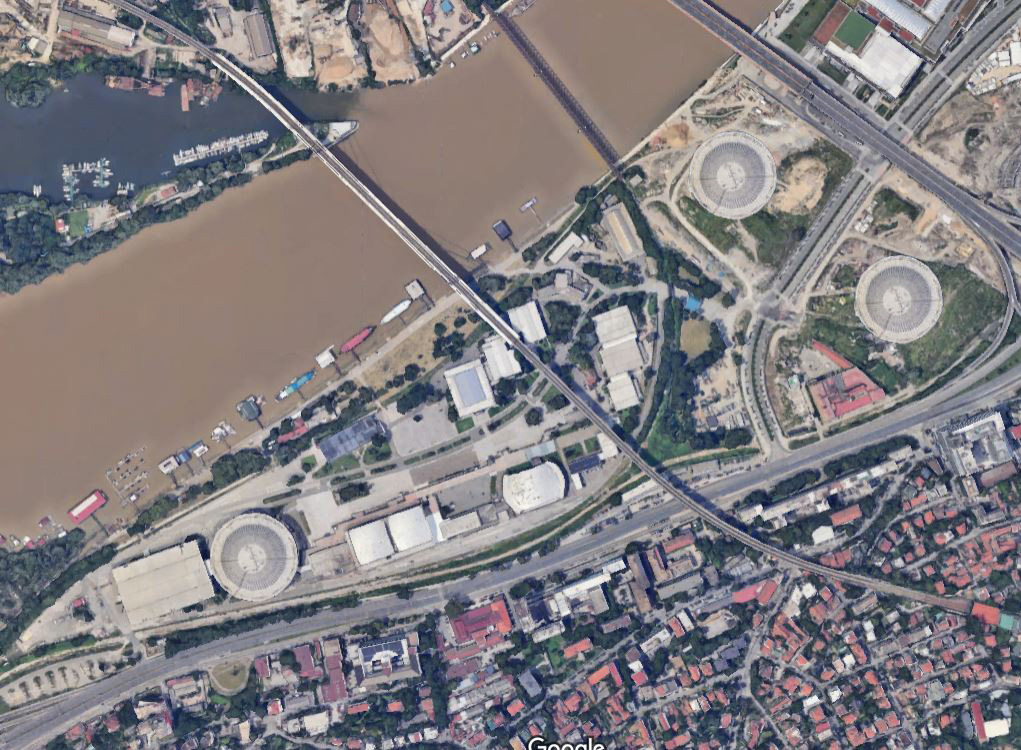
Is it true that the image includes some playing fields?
Yes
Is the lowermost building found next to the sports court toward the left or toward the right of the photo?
right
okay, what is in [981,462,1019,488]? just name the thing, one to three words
building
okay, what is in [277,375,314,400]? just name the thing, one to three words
boat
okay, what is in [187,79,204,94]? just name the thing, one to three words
ship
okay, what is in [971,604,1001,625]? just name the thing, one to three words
house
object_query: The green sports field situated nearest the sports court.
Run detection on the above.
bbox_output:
[836,11,874,49]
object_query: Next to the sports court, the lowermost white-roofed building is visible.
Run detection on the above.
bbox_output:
[825,26,925,98]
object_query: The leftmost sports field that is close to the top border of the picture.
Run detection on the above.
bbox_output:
[780,0,837,52]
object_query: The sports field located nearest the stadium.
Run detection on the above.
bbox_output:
[680,322,711,357]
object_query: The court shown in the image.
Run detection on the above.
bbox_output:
[814,1,851,44]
